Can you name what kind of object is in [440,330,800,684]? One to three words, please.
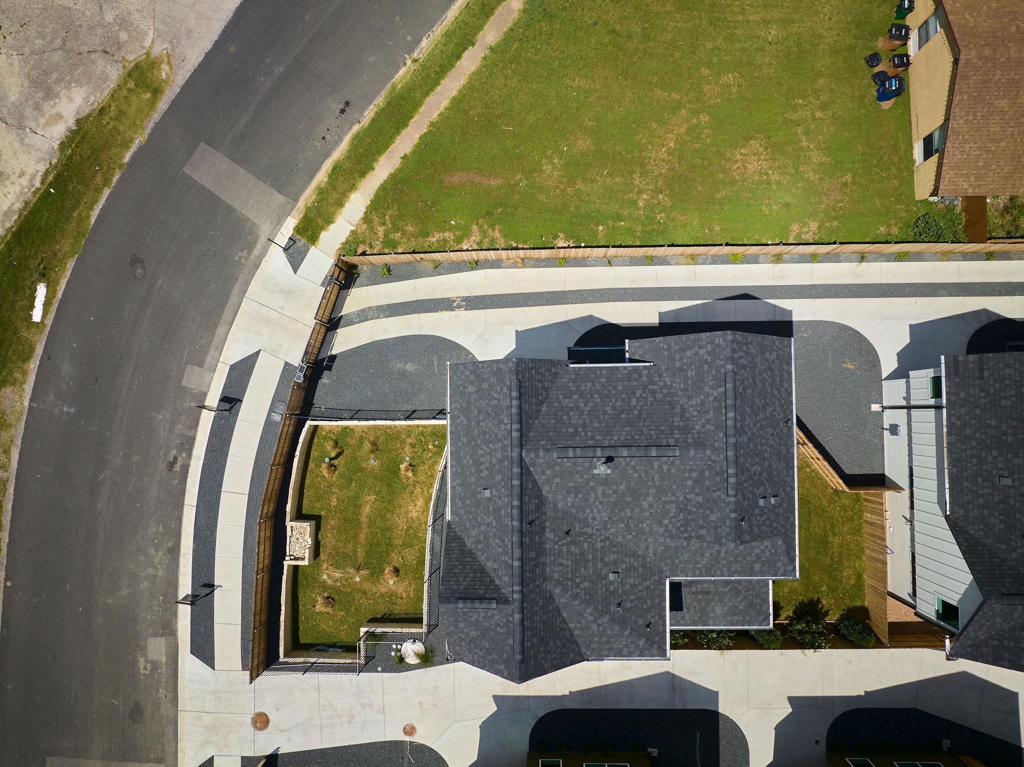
house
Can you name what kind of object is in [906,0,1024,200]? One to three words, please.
house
